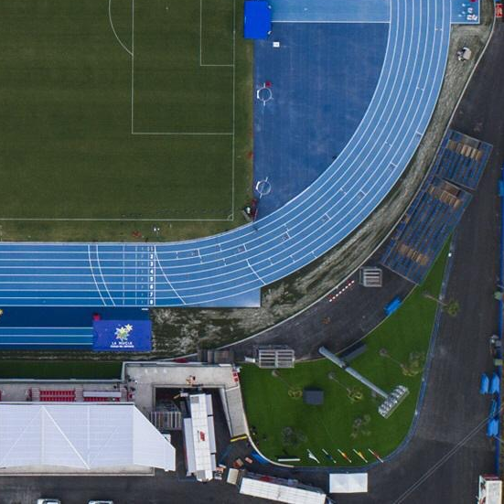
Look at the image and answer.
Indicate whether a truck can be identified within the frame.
Yes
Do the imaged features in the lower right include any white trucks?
Yes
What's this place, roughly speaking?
sports ground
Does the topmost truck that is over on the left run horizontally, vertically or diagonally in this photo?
vertically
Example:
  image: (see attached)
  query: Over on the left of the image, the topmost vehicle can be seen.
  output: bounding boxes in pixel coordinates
[179,389,215,479]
